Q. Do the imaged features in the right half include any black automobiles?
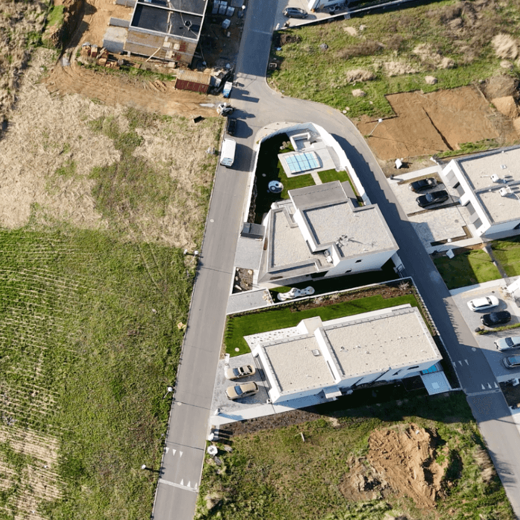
Yes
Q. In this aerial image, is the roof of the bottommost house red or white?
white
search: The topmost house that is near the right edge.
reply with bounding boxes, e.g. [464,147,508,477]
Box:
[446,146,520,238]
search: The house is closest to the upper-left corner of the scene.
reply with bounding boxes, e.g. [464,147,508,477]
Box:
[125,0,205,58]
